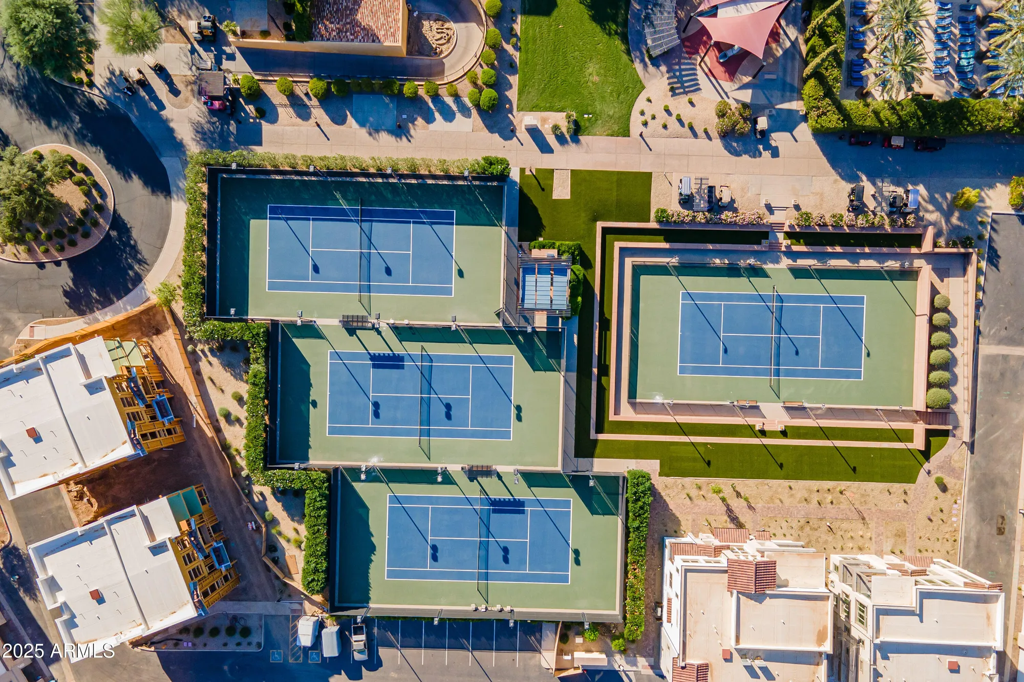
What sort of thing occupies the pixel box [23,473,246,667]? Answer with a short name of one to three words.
house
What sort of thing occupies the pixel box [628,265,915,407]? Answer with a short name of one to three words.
tennis court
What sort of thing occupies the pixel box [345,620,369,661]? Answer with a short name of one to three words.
truck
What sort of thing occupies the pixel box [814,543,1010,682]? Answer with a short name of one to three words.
house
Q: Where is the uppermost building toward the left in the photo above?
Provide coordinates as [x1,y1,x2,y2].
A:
[306,0,406,59]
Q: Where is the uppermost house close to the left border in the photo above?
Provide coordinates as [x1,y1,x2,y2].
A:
[0,328,188,502]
